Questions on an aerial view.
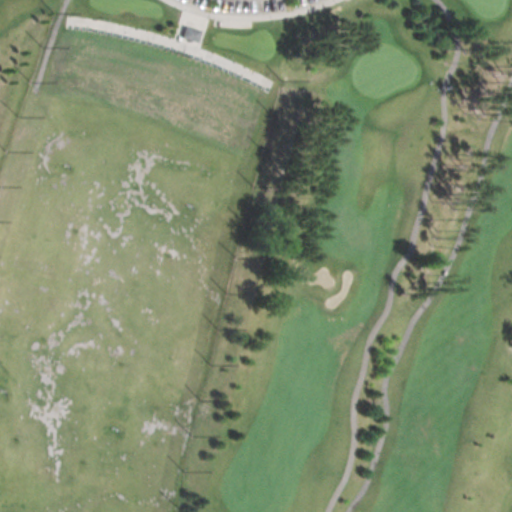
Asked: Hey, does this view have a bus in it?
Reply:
No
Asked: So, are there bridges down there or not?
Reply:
No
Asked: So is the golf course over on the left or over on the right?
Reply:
right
